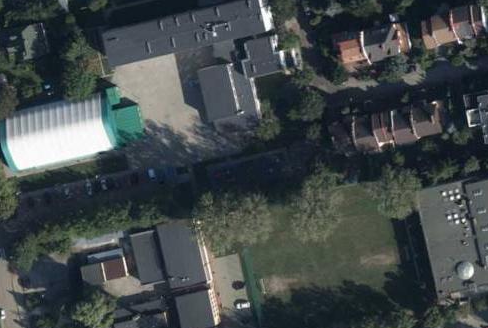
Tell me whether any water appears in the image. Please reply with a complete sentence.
No, there is no water in the image.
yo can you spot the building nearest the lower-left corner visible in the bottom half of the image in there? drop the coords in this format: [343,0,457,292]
[81,262,107,288]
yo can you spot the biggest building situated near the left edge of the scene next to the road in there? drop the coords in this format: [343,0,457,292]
[1,95,120,173]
